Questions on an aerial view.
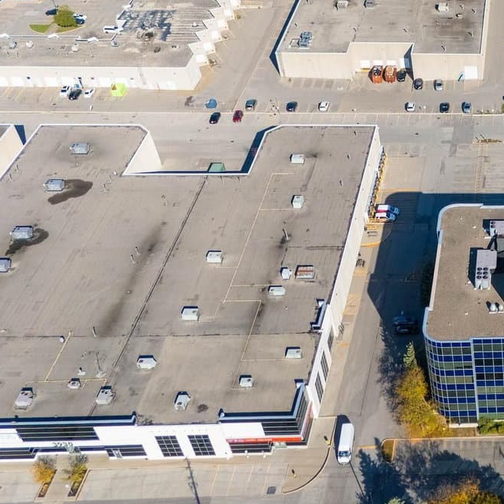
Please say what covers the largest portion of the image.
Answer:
buildings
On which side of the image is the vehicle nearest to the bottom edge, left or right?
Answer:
right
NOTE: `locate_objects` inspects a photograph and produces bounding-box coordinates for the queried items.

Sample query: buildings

[423,204,504,425]
[275,0,490,79]
[0,125,390,459]
[0,0,241,88]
